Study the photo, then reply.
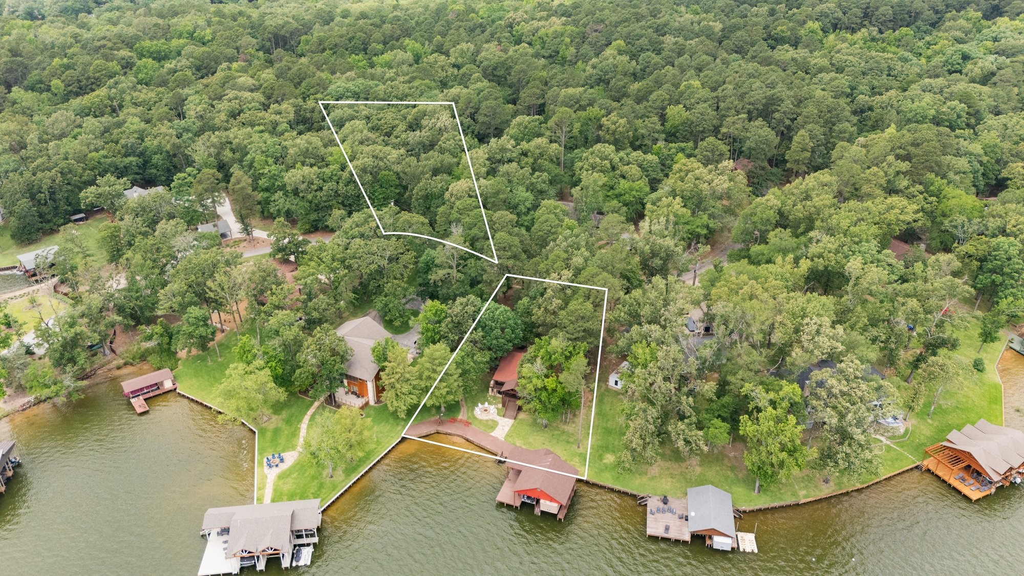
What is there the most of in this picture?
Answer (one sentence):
For the most part, this view shows trees.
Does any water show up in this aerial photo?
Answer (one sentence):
Yes, some water is visible.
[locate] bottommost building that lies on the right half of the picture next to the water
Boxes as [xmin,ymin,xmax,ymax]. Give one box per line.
[636,485,742,554]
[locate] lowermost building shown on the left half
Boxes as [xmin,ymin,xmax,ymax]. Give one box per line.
[197,499,327,576]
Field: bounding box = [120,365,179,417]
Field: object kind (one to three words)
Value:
building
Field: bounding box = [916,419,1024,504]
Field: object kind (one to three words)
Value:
building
